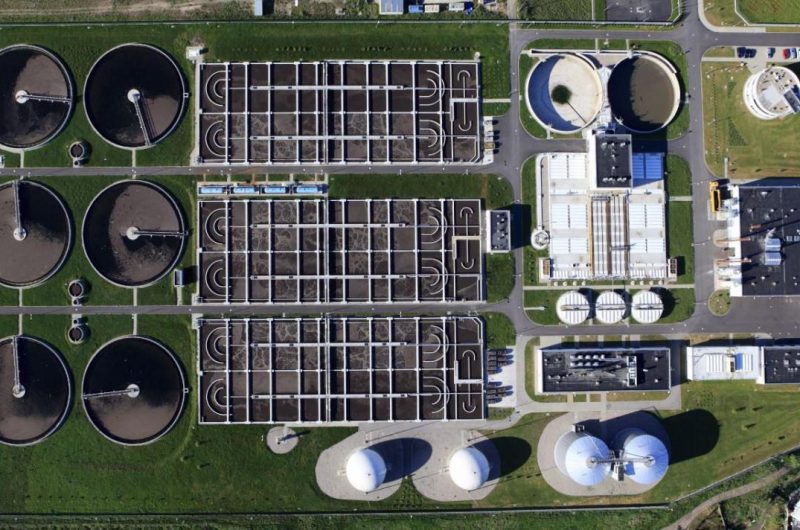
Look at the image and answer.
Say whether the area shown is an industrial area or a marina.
industrial area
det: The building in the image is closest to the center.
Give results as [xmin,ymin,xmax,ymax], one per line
[488,210,511,252]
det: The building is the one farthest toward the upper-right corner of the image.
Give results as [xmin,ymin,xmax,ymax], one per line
[742,68,800,120]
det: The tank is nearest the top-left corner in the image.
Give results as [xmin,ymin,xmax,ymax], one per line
[0,45,73,150]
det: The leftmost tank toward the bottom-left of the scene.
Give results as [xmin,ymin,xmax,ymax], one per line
[0,337,71,445]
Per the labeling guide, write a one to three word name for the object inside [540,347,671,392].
building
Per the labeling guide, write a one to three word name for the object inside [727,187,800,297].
building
